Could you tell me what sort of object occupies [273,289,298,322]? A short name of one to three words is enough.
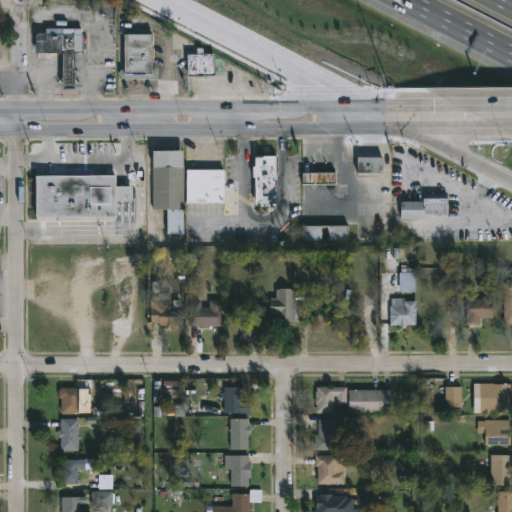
house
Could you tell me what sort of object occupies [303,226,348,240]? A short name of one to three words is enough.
shed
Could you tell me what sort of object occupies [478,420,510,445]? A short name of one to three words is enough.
house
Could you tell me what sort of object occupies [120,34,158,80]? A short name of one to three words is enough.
building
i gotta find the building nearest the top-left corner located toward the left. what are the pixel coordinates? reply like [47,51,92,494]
[36,22,84,87]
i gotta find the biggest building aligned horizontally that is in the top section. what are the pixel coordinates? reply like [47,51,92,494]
[36,176,133,218]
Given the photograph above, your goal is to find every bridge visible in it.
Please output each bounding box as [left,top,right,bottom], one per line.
[387,86,512,146]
